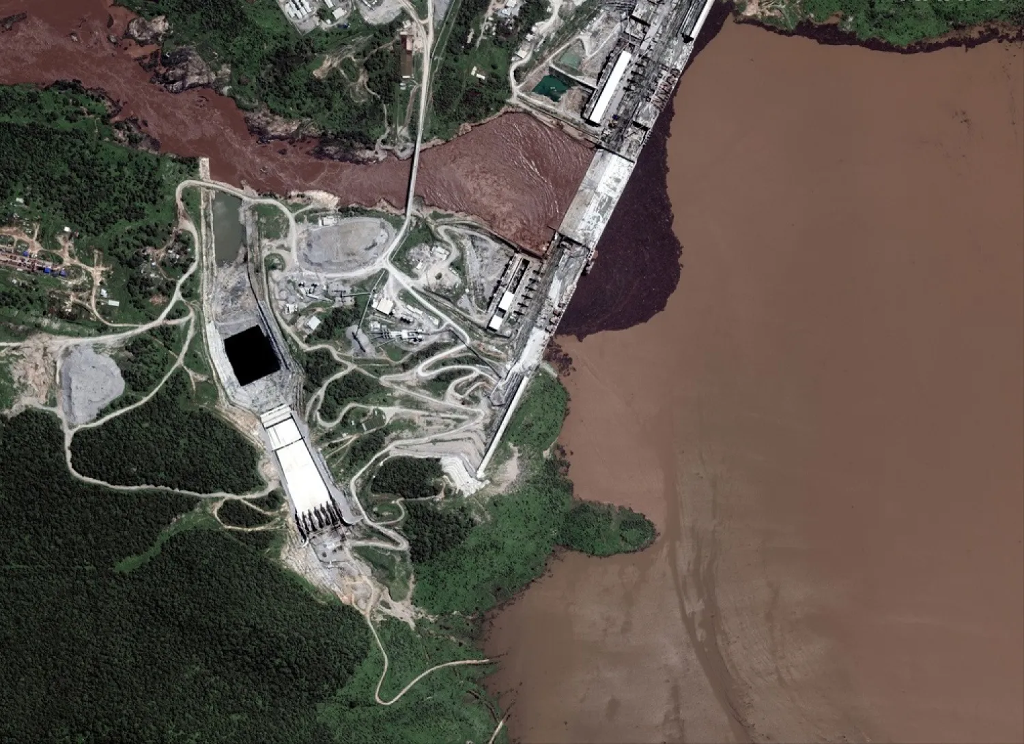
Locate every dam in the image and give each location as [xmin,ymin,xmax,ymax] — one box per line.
[473,0,715,479]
